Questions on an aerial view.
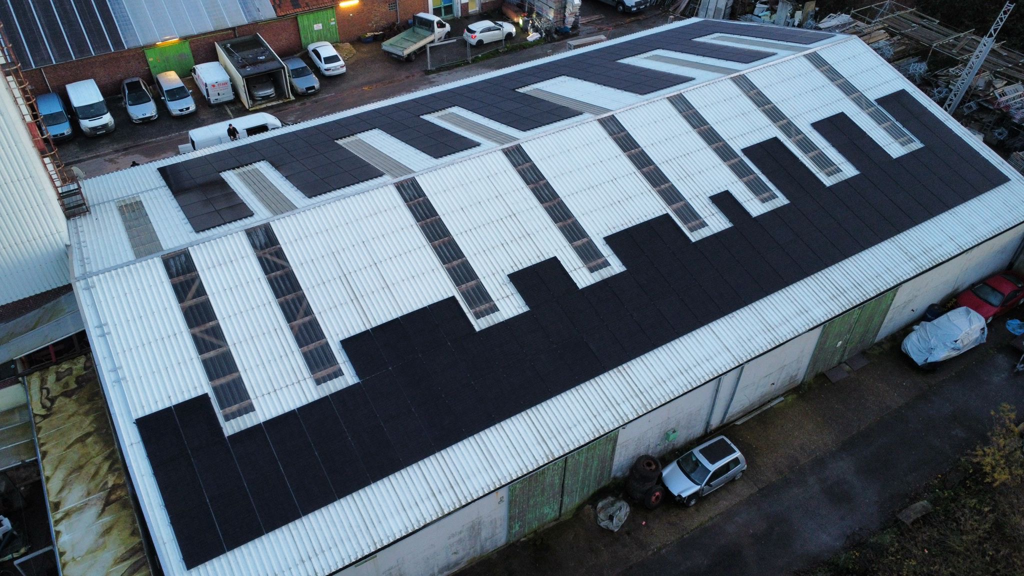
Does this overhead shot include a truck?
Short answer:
Yes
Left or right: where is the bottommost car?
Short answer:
right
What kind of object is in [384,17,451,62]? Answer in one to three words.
truck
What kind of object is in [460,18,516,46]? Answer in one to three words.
car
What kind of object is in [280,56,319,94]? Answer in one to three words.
car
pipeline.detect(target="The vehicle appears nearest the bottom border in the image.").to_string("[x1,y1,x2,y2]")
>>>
[662,430,750,502]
